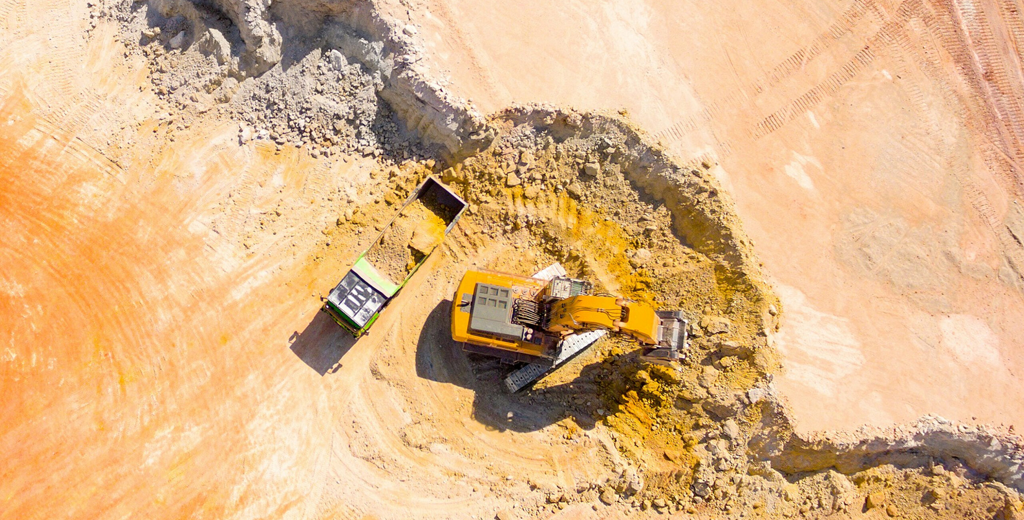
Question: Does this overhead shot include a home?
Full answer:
No, I find no home anywhere in the image.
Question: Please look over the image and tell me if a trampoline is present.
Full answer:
No, no trampoline can be seen from above.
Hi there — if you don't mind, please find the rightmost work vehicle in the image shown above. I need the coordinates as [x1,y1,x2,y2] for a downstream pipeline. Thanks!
[451,255,691,391]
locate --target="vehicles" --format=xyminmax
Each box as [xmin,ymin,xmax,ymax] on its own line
[451,255,691,391]
[319,176,468,341]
